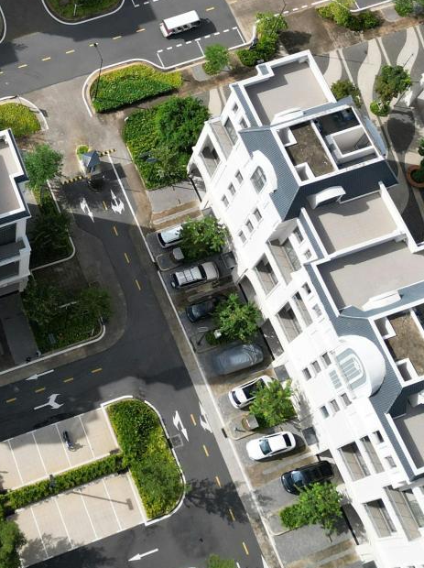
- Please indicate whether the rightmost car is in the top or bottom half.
bottom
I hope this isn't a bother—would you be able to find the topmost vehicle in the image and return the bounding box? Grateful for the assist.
[156,6,208,39]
